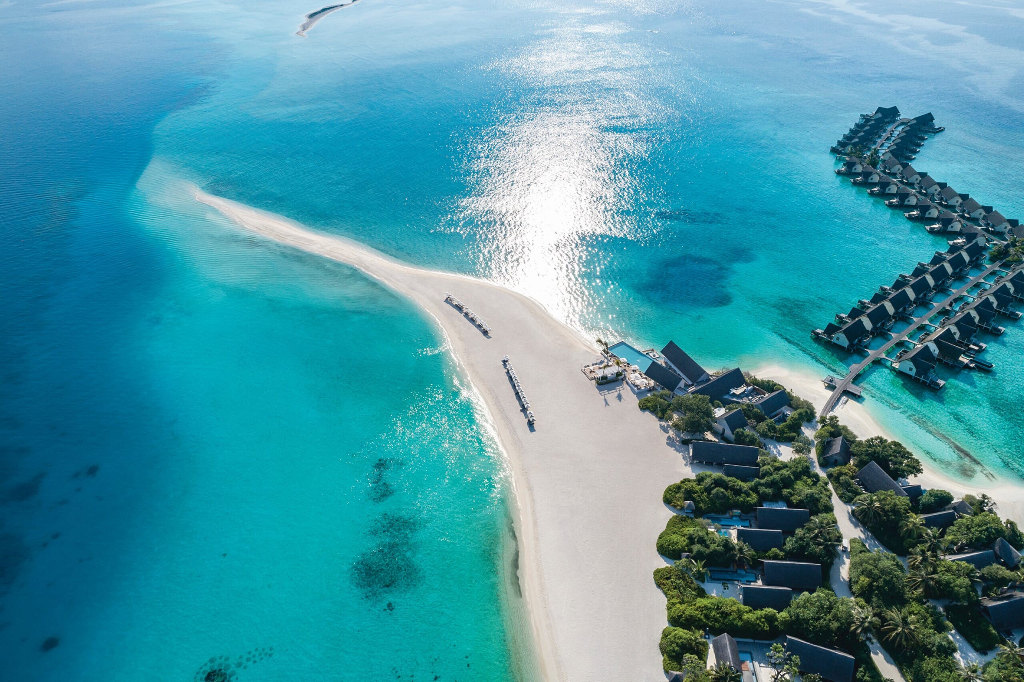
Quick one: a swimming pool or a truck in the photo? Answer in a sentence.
This aerial view contains a swimming pool.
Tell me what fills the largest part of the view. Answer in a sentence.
The scene is dominated by water.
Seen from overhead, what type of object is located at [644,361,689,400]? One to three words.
building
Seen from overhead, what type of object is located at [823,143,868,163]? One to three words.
house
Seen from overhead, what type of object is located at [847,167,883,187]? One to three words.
house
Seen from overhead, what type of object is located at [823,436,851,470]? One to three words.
shed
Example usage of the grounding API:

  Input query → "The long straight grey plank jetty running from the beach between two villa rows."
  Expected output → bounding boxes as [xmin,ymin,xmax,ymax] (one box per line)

[814,249,1023,429]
